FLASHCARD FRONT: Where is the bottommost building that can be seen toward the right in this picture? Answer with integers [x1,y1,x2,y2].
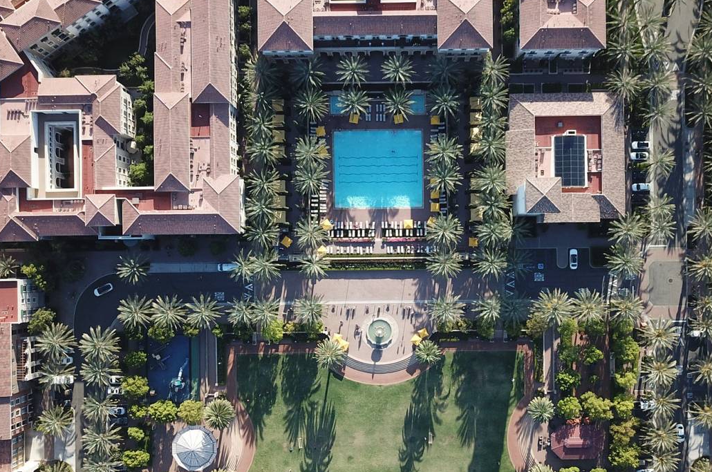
[551,424,597,452]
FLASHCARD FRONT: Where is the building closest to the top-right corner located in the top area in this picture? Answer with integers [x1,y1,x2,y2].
[512,0,607,75]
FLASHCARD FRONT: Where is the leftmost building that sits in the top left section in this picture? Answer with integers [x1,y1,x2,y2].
[0,0,250,242]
